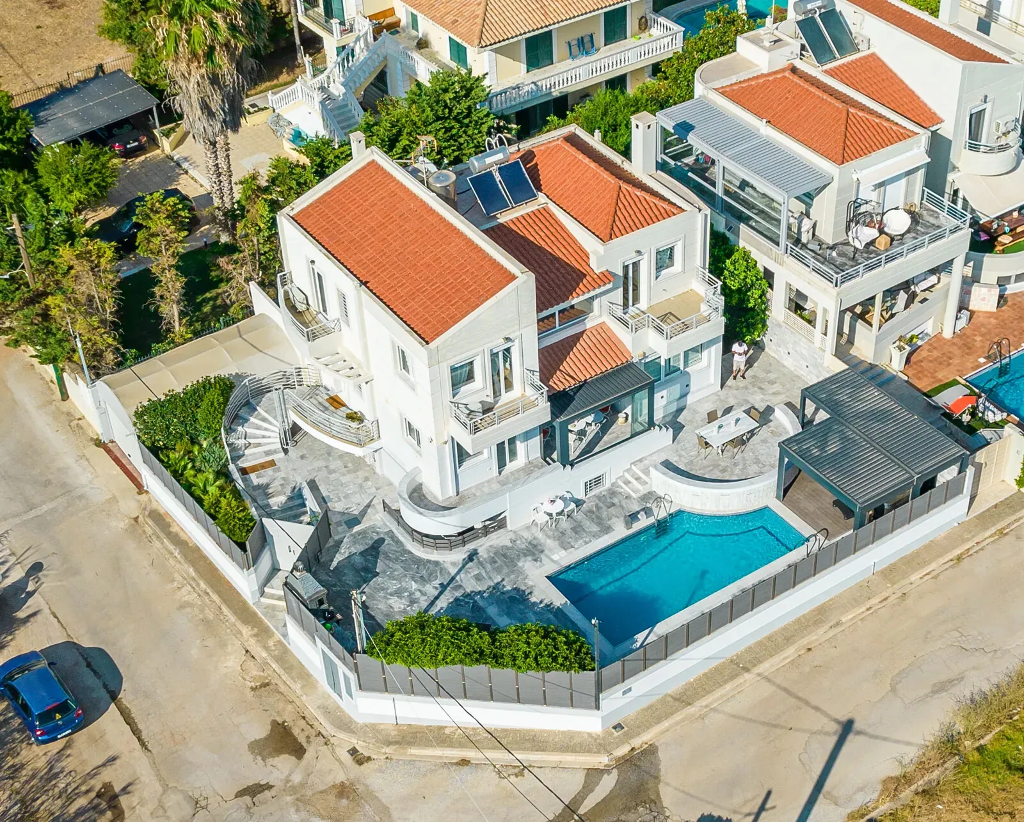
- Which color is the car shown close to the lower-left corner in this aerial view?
blue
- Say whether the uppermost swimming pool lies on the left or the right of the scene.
right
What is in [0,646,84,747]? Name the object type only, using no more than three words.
car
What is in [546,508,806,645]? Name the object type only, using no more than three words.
swimming pool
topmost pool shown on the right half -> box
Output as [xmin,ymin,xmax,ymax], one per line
[660,0,719,42]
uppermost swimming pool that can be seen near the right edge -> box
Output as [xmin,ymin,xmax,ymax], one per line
[961,343,1024,418]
